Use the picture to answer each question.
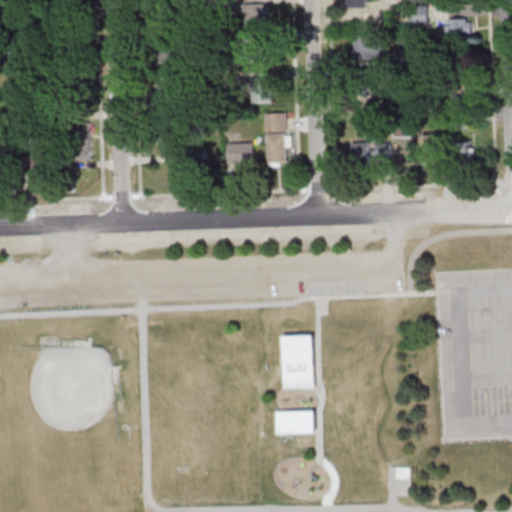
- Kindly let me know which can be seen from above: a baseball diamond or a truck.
baseball diamond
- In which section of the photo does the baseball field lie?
bottom left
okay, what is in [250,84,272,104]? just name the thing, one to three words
house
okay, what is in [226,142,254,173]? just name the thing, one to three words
house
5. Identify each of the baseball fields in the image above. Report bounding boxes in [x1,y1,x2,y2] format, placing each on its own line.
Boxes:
[30,346,114,431]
